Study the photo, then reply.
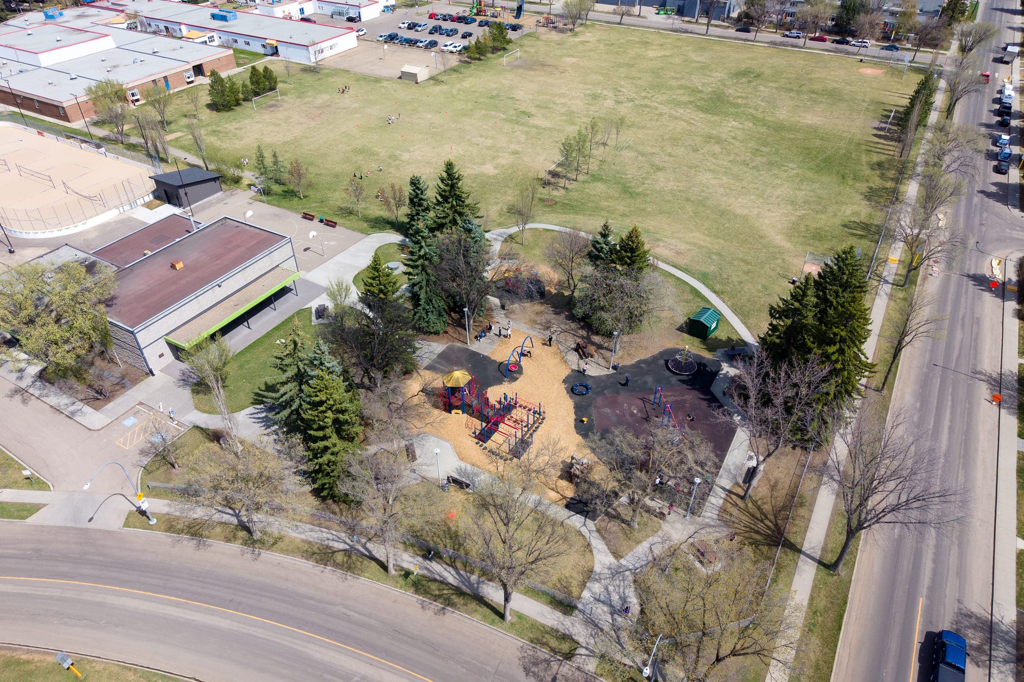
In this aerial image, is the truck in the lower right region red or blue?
blue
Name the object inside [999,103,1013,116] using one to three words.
vehicle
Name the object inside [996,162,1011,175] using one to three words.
vehicle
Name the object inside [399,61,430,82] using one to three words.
shed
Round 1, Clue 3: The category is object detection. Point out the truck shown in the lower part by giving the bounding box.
[930,631,974,682]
